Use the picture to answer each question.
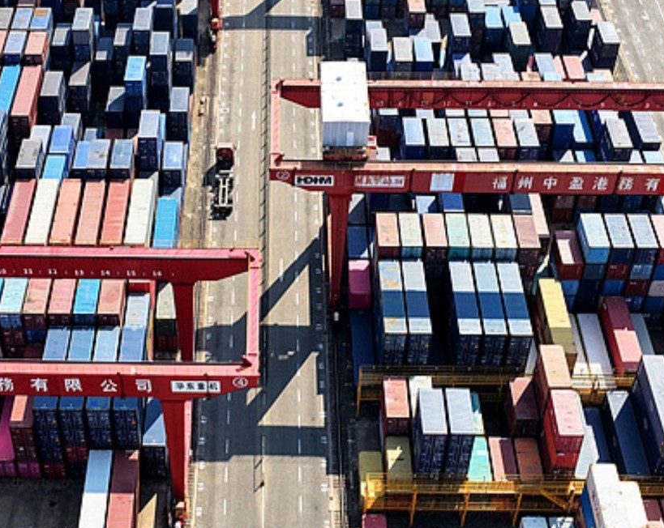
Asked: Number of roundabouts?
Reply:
0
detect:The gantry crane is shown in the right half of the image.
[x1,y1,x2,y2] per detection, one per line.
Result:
[270,67,664,341]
